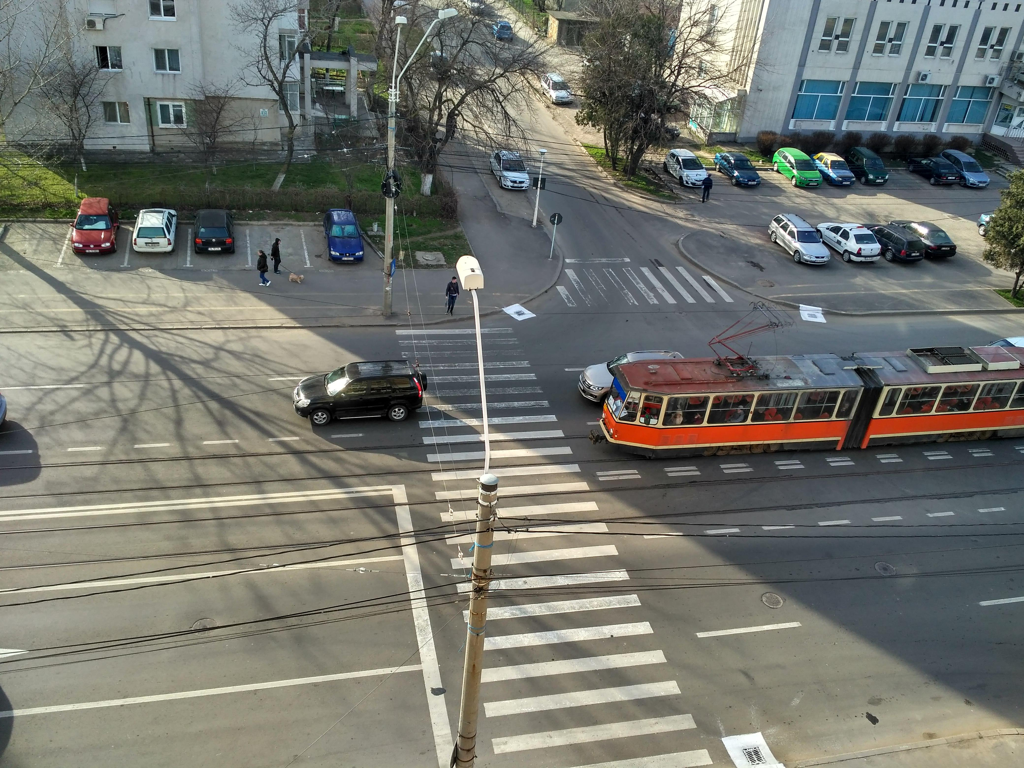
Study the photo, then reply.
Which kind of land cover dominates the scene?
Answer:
paved ground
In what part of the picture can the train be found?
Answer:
right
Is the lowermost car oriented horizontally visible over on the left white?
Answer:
No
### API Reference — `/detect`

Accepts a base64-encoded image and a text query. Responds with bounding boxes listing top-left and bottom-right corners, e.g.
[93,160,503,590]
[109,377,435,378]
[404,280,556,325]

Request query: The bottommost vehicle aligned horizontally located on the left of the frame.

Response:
[291,356,429,424]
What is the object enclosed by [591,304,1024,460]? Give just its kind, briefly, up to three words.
train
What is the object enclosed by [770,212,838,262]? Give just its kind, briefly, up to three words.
car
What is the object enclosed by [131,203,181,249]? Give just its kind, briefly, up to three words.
car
